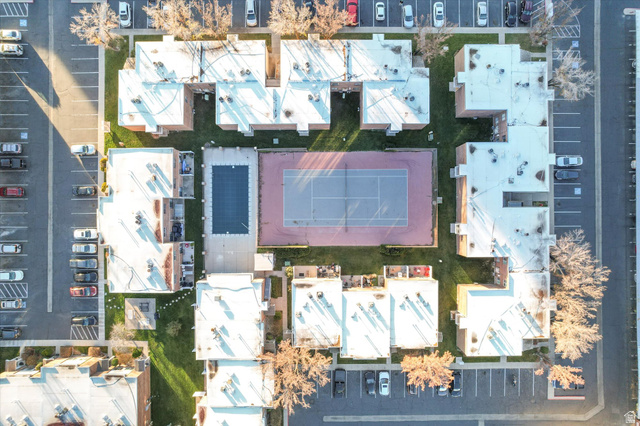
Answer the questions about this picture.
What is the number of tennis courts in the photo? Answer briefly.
one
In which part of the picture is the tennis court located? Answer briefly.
center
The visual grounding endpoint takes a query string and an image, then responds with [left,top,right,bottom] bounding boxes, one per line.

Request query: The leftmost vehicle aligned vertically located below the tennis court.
[334,367,346,398]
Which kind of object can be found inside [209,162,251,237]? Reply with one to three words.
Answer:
swimming pool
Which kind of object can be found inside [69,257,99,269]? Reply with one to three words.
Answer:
vehicle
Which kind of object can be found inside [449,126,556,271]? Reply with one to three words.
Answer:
building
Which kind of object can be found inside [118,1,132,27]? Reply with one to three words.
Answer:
car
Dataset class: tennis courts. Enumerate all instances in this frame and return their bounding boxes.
[259,150,433,246]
